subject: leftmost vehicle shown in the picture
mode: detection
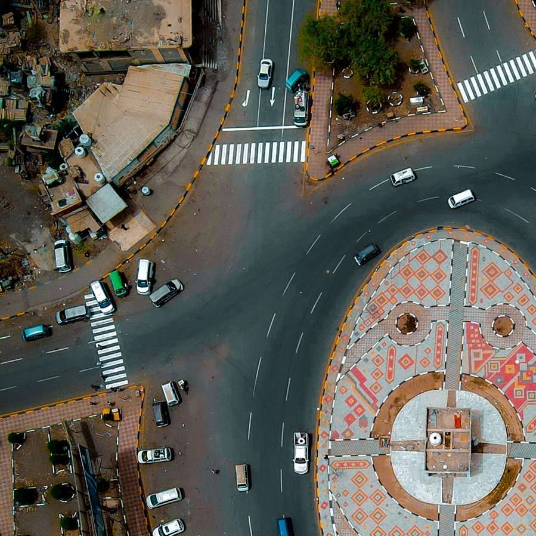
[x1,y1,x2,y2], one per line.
[21,325,51,343]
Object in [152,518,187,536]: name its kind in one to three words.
car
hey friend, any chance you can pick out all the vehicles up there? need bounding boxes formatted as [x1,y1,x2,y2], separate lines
[107,269,128,297]
[292,432,309,475]
[258,58,273,91]
[161,380,180,407]
[284,67,308,94]
[138,446,174,462]
[88,279,115,315]
[352,242,382,266]
[278,516,294,536]
[292,90,309,128]
[21,325,51,343]
[146,487,184,507]
[445,187,476,209]
[235,463,249,492]
[56,304,92,324]
[152,518,187,536]
[134,257,153,295]
[387,166,419,187]
[152,399,170,426]
[148,279,185,307]
[53,240,72,273]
